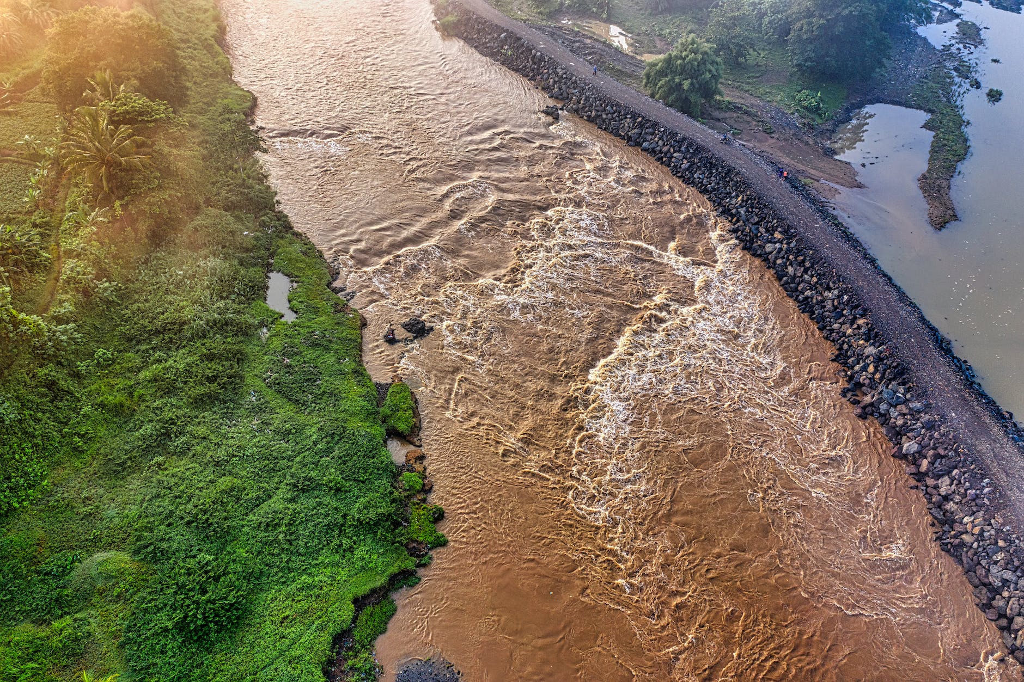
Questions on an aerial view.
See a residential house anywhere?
No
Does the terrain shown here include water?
Yes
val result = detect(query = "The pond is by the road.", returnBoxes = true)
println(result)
[745,0,1024,422]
